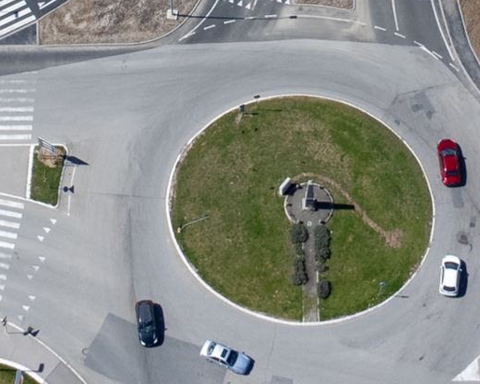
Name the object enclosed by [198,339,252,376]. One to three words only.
car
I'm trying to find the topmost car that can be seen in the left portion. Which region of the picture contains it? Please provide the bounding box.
[136,300,161,347]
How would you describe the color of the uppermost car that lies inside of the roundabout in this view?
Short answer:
red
